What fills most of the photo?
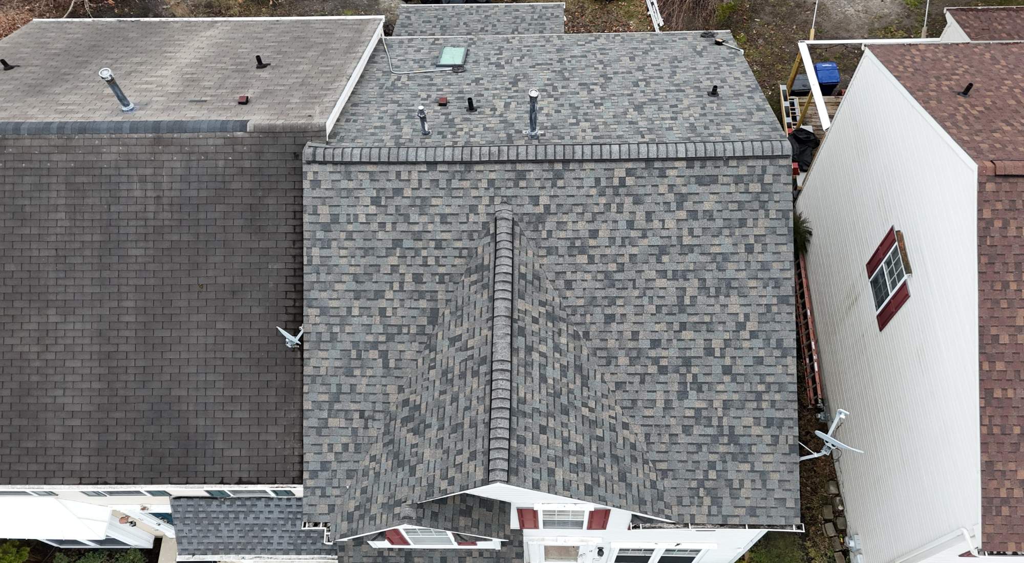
buildings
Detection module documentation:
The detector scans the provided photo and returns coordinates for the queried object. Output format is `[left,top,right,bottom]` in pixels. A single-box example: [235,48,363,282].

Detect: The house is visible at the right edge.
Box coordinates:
[799,6,1024,563]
